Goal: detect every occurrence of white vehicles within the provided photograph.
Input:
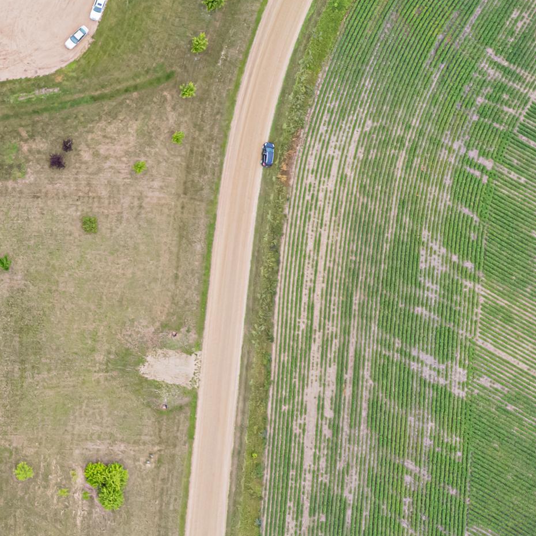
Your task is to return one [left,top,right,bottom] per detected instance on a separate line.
[90,0,105,21]
[65,24,90,50]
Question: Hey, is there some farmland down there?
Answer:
Yes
